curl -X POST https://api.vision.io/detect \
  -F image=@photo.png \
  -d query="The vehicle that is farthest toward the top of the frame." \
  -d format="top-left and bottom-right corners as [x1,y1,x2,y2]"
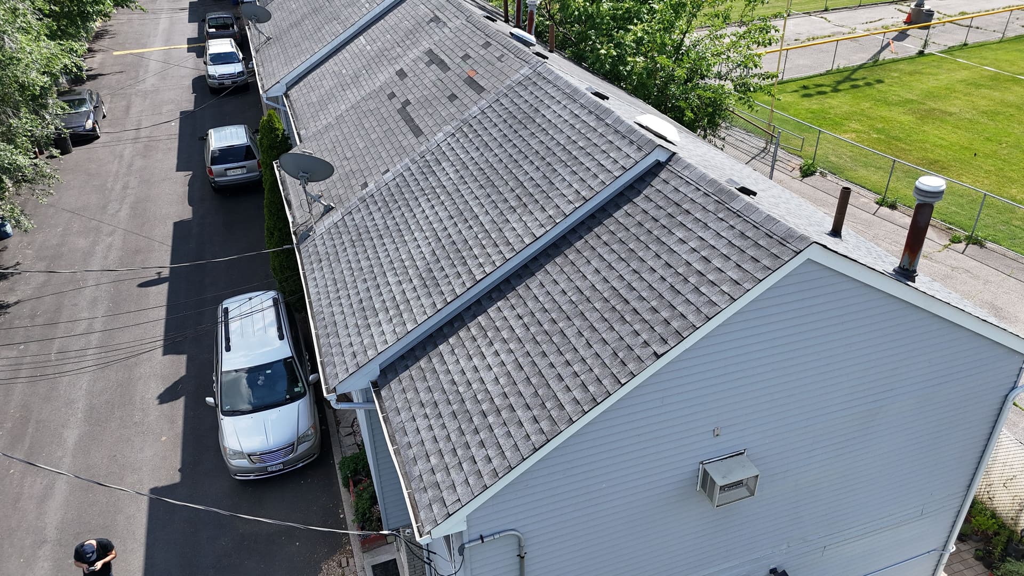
[203,10,242,43]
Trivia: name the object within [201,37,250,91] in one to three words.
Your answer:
car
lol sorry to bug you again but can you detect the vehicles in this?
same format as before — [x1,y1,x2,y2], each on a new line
[202,292,326,484]
[203,10,242,43]
[199,124,253,190]
[201,37,250,91]
[44,89,109,140]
